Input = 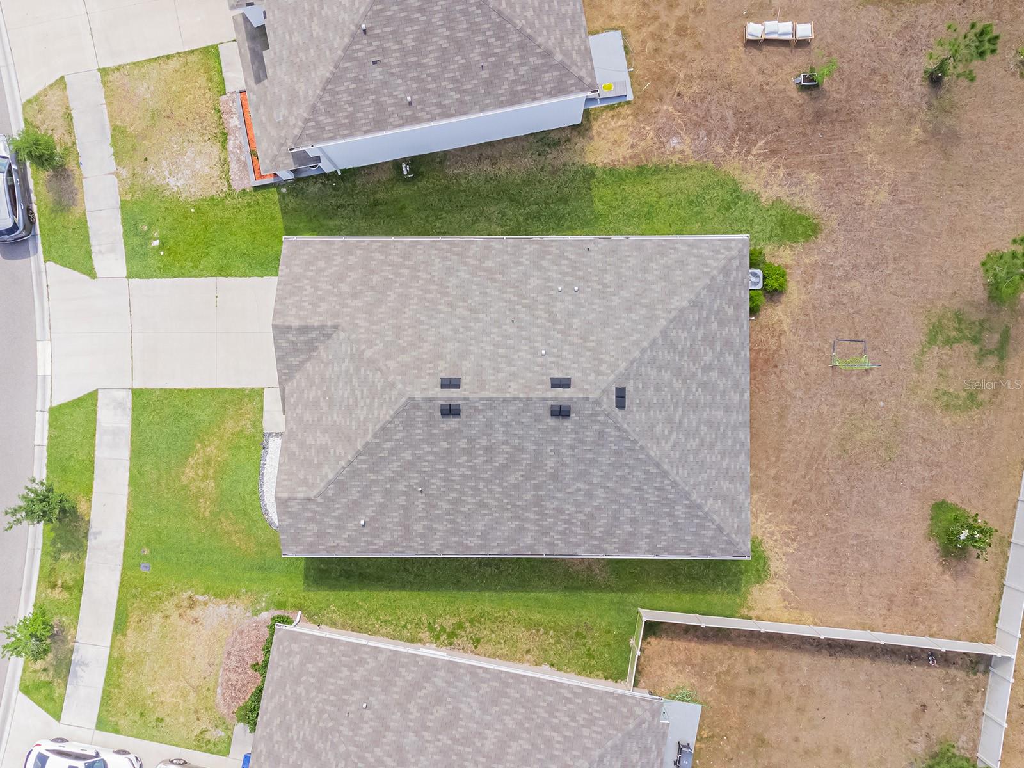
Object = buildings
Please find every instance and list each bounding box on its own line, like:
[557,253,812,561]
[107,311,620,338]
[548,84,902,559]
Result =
[228,0,599,177]
[249,604,670,768]
[273,236,751,557]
